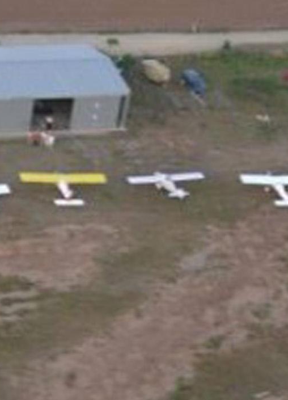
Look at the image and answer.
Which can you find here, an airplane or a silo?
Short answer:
airplane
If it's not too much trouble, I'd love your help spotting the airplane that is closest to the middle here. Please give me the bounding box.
[128,172,206,199]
